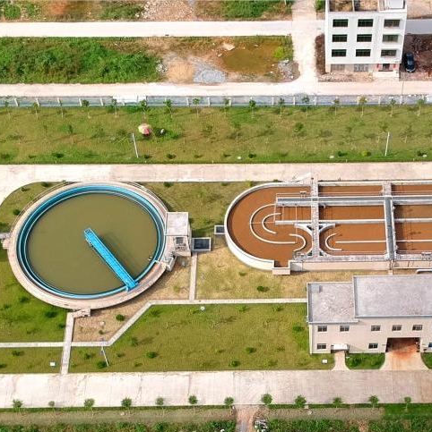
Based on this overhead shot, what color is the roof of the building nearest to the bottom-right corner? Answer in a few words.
white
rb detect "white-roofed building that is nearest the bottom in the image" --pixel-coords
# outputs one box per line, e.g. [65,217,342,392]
[307,272,432,354]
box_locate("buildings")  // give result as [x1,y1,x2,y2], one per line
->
[307,272,432,354]
[323,0,405,79]
[162,212,191,275]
